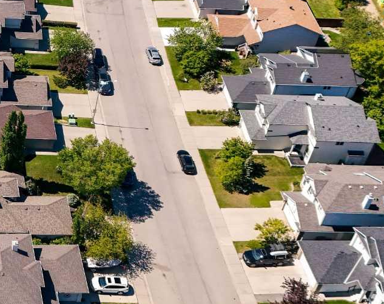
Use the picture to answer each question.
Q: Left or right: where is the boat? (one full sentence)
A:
The boat appears in the left half of the scene.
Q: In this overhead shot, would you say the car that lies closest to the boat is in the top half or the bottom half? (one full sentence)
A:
The car that lies closest to the boat is in the bottom half of the image.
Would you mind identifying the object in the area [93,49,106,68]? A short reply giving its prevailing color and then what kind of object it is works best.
black vehicle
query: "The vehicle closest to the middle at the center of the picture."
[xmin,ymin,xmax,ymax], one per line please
[176,148,196,176]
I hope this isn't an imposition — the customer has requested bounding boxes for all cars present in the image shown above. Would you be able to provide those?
[245,246,288,265]
[91,274,132,294]
[176,148,196,176]
[93,49,106,68]
[97,73,111,94]
[146,46,161,66]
